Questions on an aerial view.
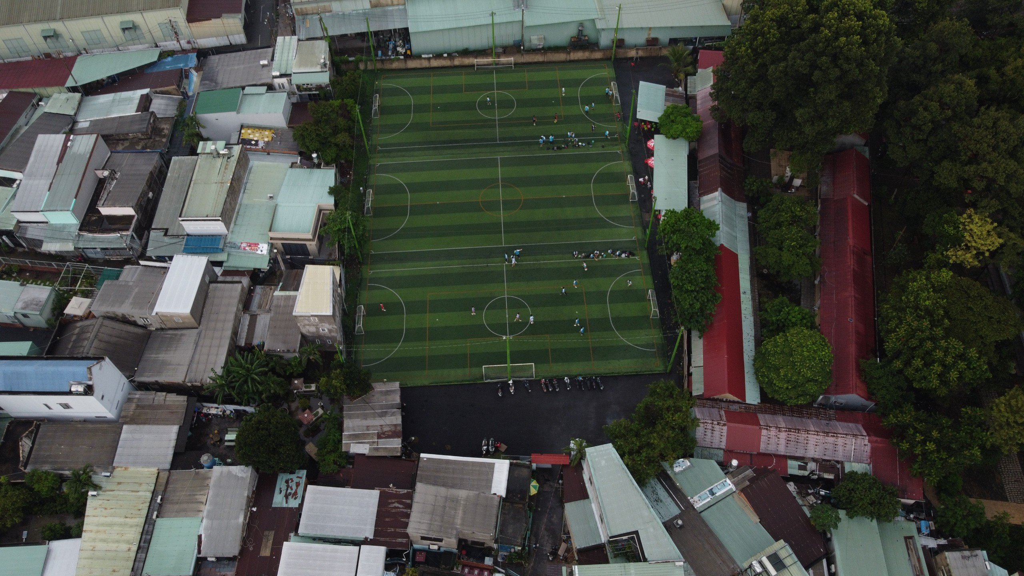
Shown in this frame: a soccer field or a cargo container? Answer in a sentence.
There is a soccer field in the scene.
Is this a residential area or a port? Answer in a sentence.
This looks like a residential area.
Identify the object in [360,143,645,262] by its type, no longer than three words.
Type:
soccer field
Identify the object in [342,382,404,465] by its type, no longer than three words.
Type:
shed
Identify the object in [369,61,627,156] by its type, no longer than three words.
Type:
soccer field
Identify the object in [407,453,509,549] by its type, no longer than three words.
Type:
house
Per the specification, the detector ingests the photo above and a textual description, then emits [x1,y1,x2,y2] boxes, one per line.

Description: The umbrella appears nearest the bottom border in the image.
[527,479,541,498]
